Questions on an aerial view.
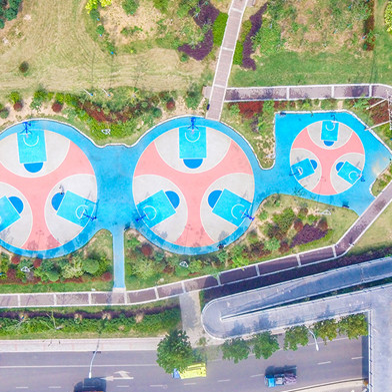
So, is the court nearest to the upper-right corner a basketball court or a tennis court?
basketball court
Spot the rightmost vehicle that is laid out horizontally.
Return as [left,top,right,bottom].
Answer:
[263,370,296,388]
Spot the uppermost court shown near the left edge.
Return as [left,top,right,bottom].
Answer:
[0,129,98,251]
